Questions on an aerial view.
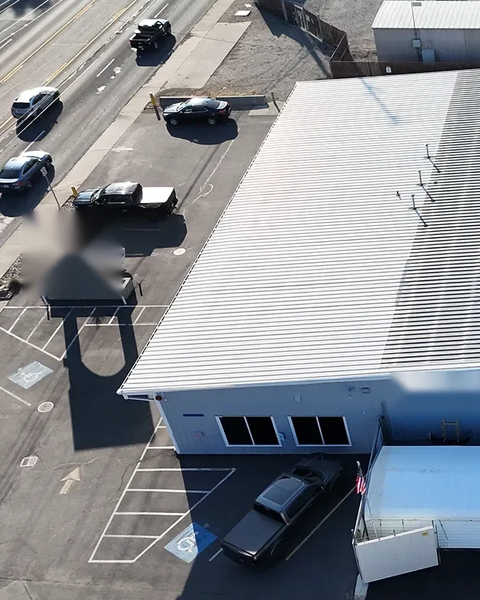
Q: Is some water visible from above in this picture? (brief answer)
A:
No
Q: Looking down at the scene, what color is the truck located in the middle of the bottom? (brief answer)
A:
black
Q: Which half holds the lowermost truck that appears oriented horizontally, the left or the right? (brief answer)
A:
left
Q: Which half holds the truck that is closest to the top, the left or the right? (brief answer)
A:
left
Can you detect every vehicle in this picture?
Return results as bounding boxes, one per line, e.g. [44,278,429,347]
[124,11,177,47]
[156,93,238,123]
[218,452,364,581]
[73,168,187,212]
[7,88,64,124]
[0,147,58,193]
